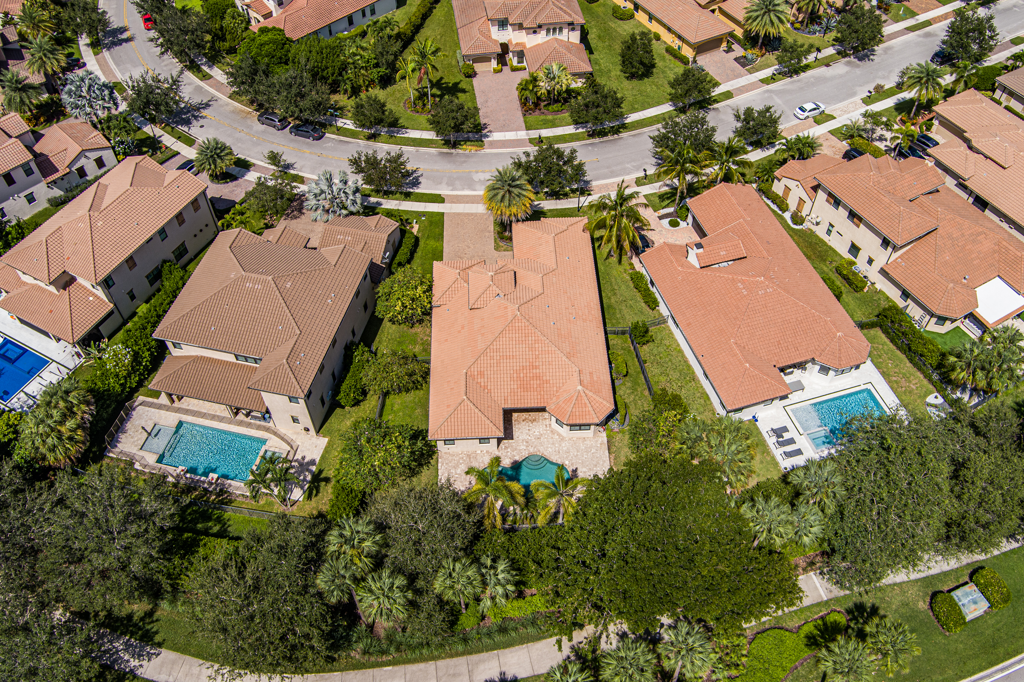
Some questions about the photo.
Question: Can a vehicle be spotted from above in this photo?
Yes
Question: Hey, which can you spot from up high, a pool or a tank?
pool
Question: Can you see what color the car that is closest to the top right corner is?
black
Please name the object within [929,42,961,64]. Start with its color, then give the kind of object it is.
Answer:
black car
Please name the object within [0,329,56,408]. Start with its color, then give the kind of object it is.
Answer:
blue swimming pool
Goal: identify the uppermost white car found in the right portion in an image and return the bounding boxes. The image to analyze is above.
[794,100,829,119]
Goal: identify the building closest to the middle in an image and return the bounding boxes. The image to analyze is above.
[428,215,615,452]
